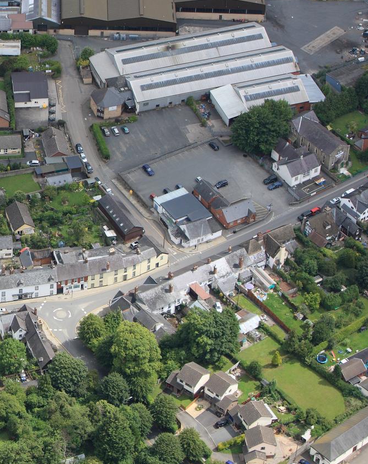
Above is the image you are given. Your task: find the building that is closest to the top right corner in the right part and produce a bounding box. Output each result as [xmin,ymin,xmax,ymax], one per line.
[325,63,366,93]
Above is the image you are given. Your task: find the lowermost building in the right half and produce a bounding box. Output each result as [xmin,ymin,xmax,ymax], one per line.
[240,427,278,464]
